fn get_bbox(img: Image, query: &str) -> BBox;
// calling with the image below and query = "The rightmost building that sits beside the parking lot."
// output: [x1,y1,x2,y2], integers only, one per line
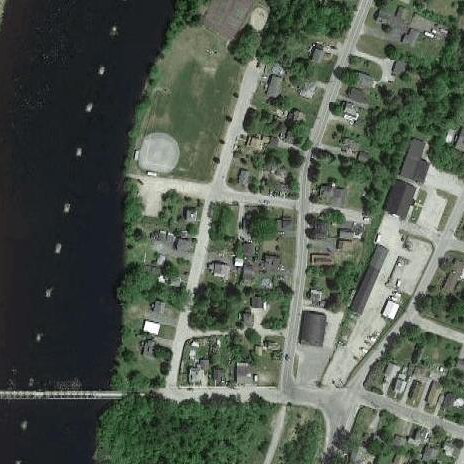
[351,246,389,315]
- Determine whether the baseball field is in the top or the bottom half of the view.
top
